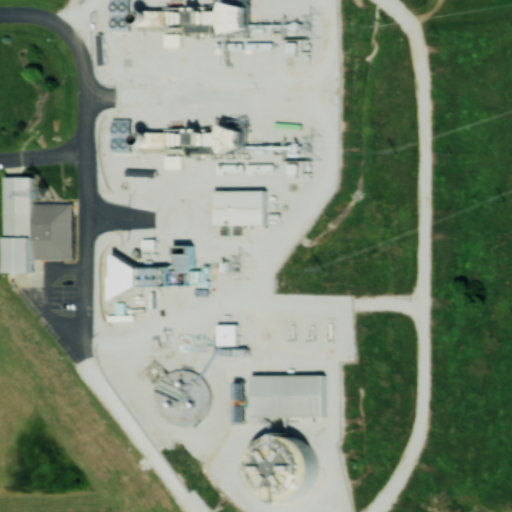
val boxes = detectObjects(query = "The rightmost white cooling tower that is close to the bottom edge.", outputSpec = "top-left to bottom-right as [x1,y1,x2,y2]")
[240,428,317,502]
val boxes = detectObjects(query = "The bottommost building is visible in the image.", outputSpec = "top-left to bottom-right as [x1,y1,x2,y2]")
[248,375,325,418]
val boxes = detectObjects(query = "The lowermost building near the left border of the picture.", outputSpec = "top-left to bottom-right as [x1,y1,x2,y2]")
[0,238,32,273]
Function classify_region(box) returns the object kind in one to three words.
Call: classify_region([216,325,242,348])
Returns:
building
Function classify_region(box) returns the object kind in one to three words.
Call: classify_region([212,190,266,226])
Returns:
building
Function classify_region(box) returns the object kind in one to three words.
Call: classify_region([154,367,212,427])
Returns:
storage tank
